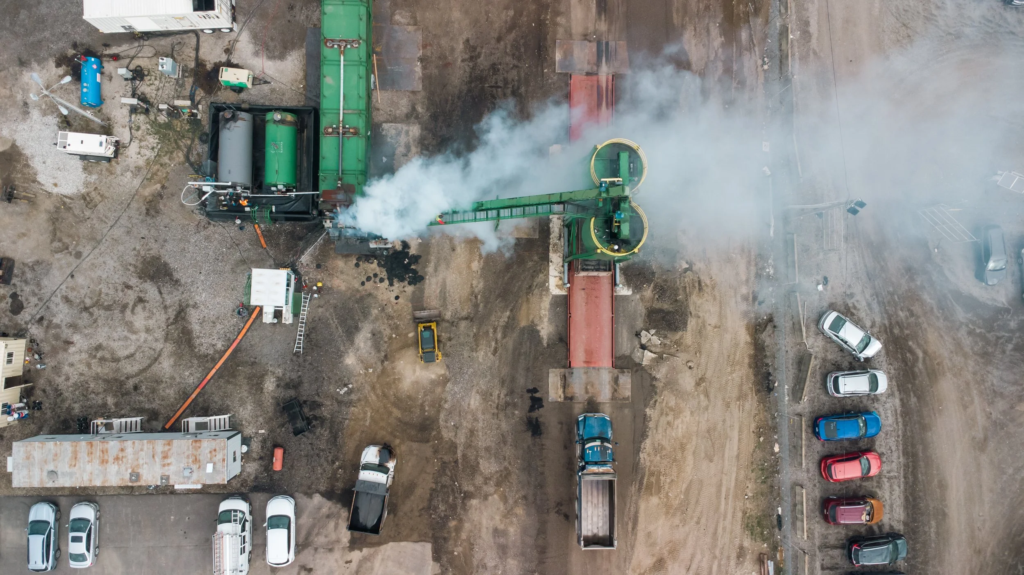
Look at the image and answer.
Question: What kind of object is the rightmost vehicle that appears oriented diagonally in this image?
car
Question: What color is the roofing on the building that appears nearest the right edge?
white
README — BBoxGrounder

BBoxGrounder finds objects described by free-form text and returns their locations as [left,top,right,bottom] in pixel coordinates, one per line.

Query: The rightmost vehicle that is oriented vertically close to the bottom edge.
[572,409,617,553]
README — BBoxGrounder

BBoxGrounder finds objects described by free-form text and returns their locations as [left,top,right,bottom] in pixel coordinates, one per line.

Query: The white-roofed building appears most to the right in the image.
[249,266,311,327]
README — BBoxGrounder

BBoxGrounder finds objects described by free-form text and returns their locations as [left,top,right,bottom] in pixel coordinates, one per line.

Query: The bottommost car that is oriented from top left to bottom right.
[813,307,884,361]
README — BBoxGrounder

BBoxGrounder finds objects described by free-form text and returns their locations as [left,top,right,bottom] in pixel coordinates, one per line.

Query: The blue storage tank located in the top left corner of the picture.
[66,52,109,109]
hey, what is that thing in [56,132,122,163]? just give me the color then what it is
white trailer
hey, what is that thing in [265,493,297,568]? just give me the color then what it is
white car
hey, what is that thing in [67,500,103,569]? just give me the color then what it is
white car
